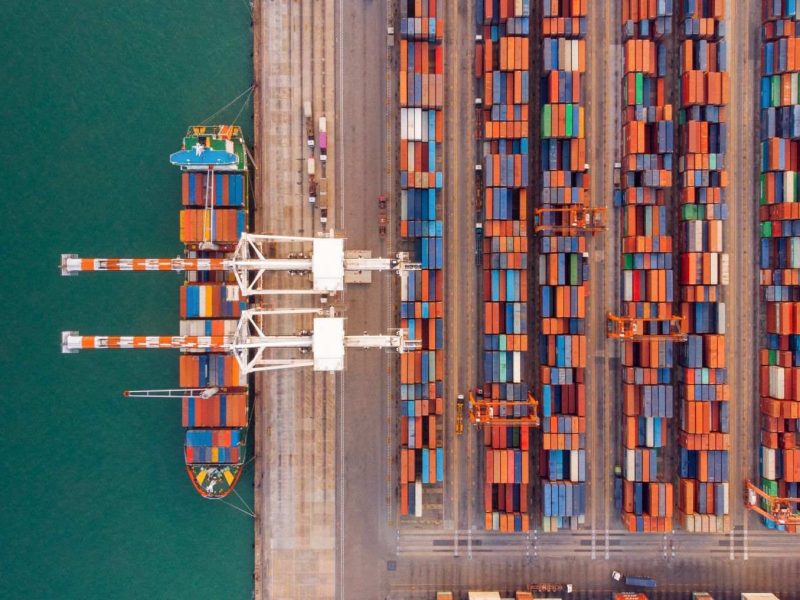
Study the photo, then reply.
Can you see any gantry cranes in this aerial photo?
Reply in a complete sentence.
Yes, this view includes a gantry crane.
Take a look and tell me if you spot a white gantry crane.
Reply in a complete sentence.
Yes, the picture does show a white gantry crane.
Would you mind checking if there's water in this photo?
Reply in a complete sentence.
Yes, there is water in the image.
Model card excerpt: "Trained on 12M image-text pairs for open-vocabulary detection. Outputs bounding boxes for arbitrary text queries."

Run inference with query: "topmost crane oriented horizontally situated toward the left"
[62,227,421,305]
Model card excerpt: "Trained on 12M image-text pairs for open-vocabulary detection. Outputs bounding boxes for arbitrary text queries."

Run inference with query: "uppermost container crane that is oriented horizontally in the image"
[530,206,613,241]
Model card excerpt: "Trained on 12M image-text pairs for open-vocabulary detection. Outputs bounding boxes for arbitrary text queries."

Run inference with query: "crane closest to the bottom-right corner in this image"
[745,478,800,524]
